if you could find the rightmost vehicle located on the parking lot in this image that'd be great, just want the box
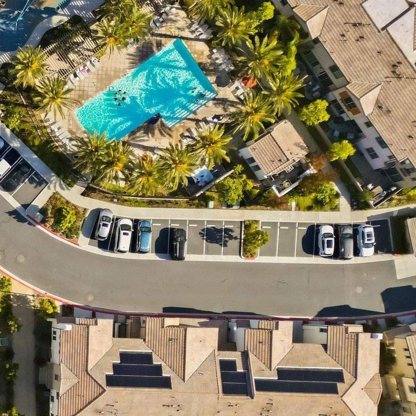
[357,225,375,256]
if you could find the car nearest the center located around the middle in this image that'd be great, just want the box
[169,228,187,261]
